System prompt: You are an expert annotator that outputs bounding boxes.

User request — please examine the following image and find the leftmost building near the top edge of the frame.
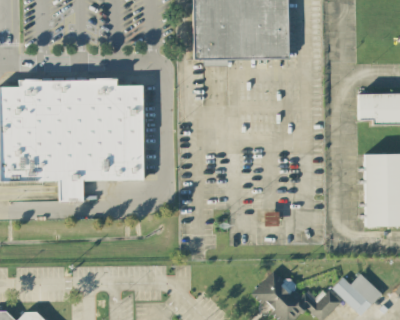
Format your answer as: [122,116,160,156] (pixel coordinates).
[193,0,289,66]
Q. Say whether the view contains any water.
No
